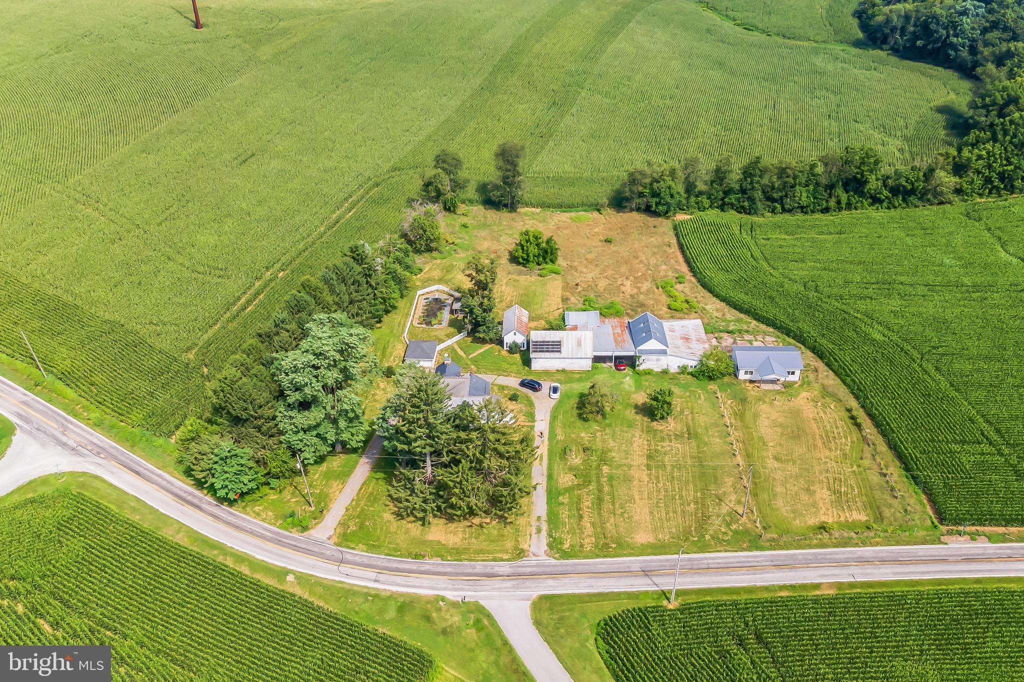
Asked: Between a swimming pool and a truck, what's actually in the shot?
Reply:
swimming pool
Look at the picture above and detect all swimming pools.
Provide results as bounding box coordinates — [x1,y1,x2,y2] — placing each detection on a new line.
[413,292,452,328]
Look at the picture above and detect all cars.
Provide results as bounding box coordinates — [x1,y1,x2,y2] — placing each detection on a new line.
[518,379,544,393]
[615,355,627,369]
[549,382,561,400]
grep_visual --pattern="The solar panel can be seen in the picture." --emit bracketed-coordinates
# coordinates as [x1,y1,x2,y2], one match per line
[532,339,561,353]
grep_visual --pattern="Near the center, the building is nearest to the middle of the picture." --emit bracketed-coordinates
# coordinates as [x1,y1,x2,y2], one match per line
[502,303,528,350]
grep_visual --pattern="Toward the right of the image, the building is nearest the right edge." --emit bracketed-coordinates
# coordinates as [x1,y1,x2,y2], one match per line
[730,346,804,389]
